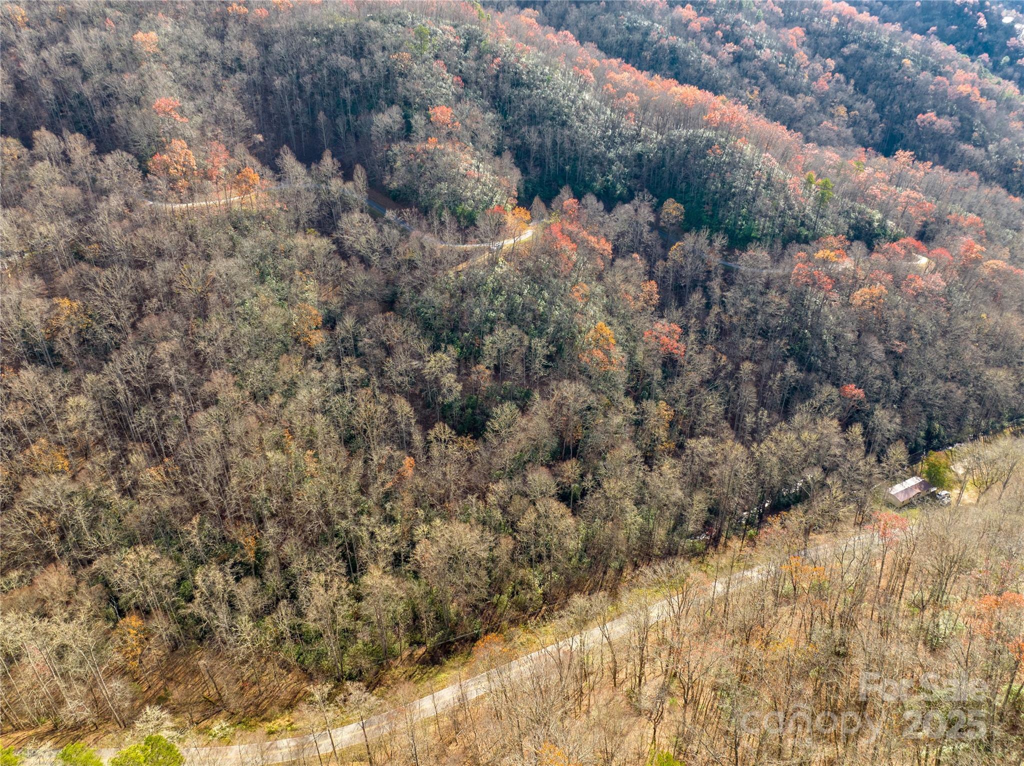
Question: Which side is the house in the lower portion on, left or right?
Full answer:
It is on the right.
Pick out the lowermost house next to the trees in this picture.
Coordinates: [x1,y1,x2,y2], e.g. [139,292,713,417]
[884,478,933,508]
